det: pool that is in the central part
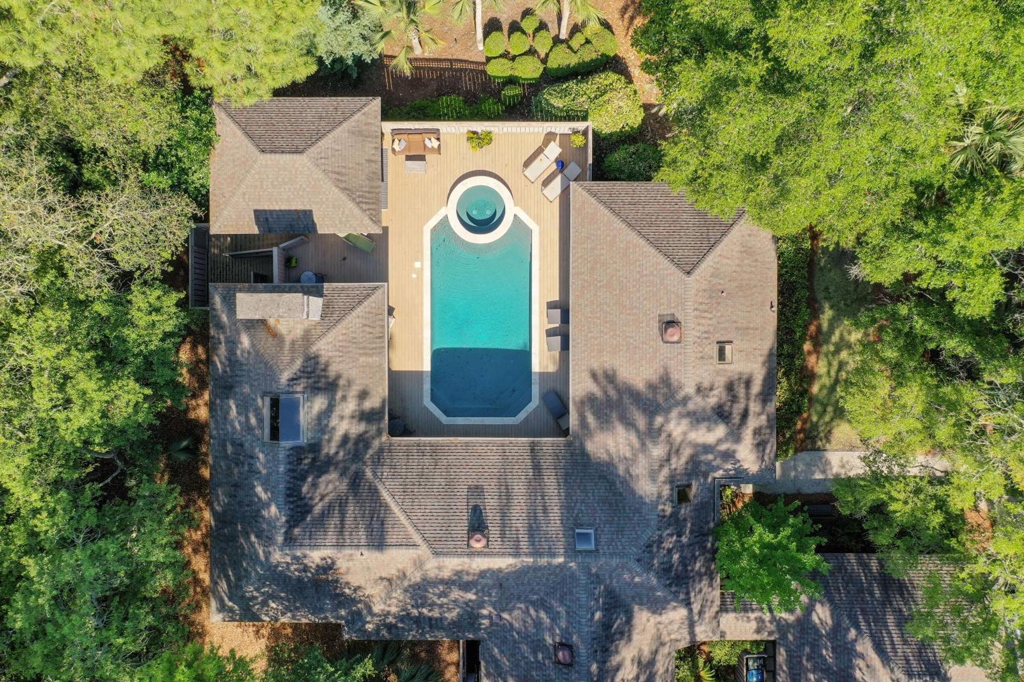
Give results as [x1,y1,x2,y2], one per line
[424,176,539,424]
